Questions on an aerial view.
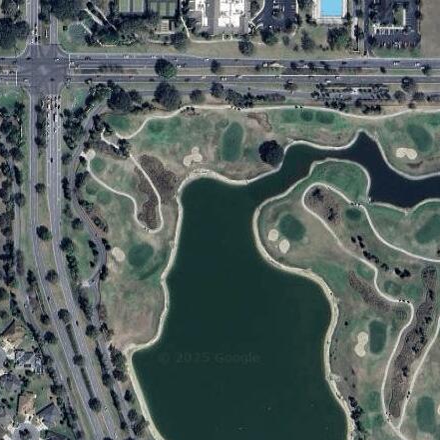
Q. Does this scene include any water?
Yes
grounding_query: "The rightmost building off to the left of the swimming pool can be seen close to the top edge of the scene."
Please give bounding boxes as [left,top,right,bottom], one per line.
[214,0,250,34]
